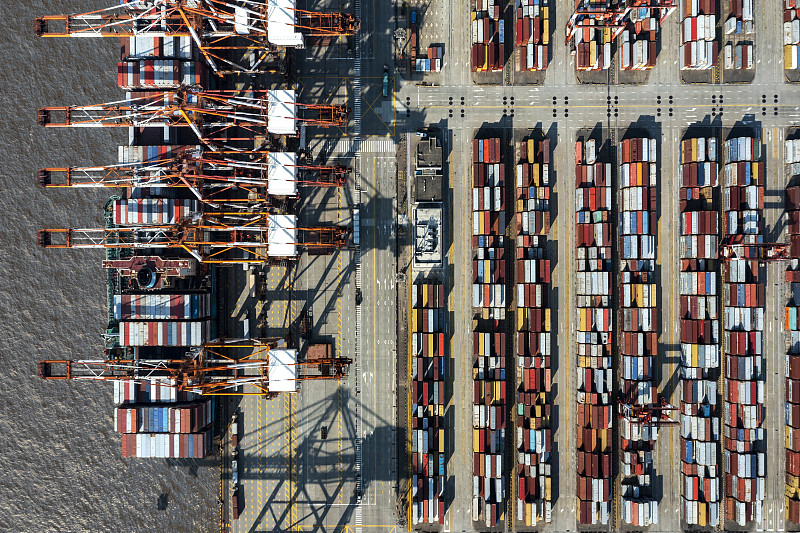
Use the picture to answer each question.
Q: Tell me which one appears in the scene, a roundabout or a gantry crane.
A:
gantry crane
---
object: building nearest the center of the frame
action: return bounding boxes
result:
[412,202,443,269]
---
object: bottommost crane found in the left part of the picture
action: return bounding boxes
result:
[37,326,352,400]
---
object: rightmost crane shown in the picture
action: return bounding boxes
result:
[720,238,795,261]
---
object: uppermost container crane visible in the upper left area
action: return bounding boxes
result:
[36,0,351,91]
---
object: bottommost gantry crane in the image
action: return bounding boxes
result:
[615,394,679,423]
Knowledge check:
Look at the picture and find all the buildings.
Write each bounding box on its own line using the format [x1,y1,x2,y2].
[416,135,442,171]
[412,202,443,269]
